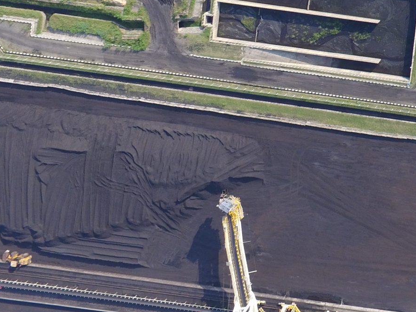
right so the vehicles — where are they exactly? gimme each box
[215,188,271,312]
[278,291,314,312]
[7,247,34,262]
